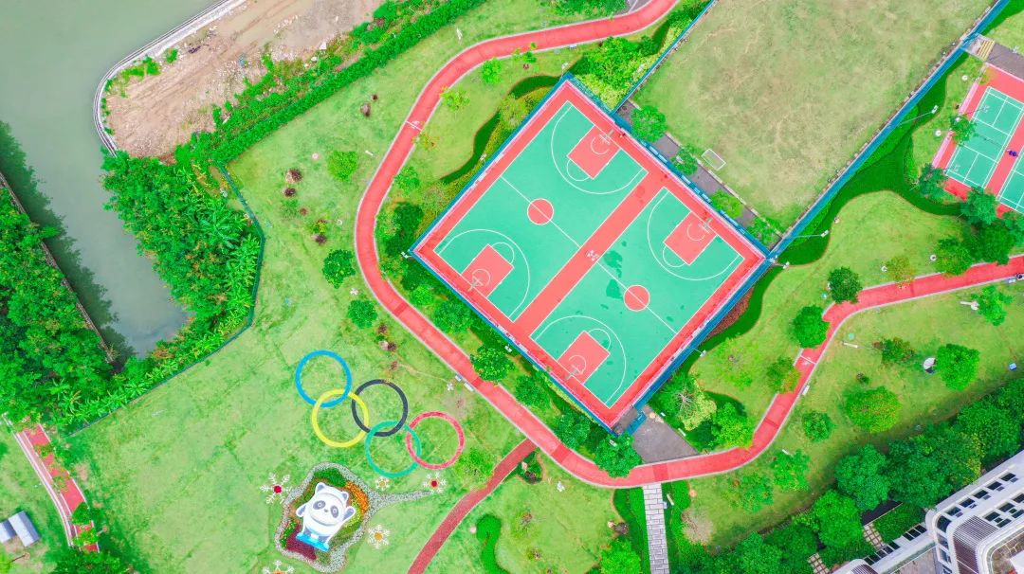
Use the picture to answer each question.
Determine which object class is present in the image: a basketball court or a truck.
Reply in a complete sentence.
The image shows a basketball court.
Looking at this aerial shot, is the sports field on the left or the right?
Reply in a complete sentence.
It is on the right.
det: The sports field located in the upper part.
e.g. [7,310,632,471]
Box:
[628,0,990,237]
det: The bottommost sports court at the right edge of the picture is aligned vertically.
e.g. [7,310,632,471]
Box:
[999,147,1024,210]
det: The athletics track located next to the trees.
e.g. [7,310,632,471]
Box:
[353,0,1024,488]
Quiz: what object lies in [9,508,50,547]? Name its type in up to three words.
shed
